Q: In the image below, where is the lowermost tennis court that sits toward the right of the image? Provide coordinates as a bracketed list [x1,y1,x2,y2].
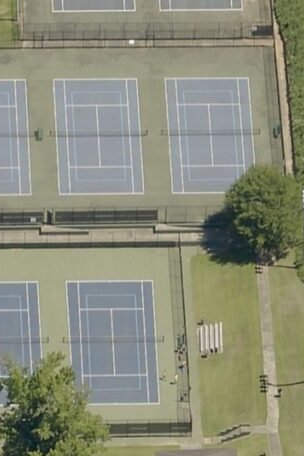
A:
[165,78,256,193]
